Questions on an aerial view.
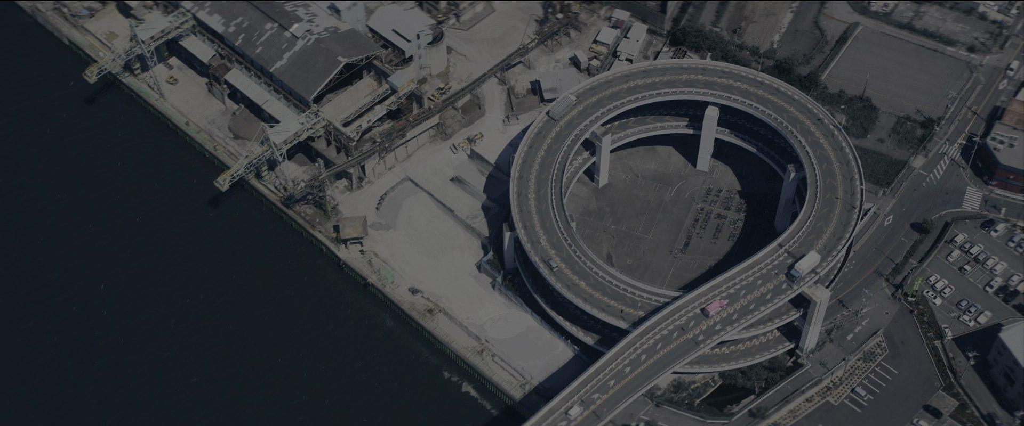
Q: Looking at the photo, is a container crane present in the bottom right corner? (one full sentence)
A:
No, I can find no container crane in the bottom right corner.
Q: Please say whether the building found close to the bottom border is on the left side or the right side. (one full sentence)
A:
It is on the right.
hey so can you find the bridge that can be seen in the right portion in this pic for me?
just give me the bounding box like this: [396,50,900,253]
[502,58,871,426]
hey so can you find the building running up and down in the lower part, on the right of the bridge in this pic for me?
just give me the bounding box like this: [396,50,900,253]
[985,322,1024,413]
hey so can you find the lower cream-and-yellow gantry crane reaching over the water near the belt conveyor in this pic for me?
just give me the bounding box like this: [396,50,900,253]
[210,104,338,206]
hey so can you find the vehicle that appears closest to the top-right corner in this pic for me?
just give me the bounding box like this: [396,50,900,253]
[1008,58,1020,73]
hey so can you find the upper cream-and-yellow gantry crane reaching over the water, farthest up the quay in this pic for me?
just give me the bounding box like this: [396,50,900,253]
[80,8,204,102]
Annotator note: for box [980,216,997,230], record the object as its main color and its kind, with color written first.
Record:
black car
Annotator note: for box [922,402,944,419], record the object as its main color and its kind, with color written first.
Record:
black car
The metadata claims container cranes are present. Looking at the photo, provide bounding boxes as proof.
[80,8,204,102]
[210,104,338,206]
